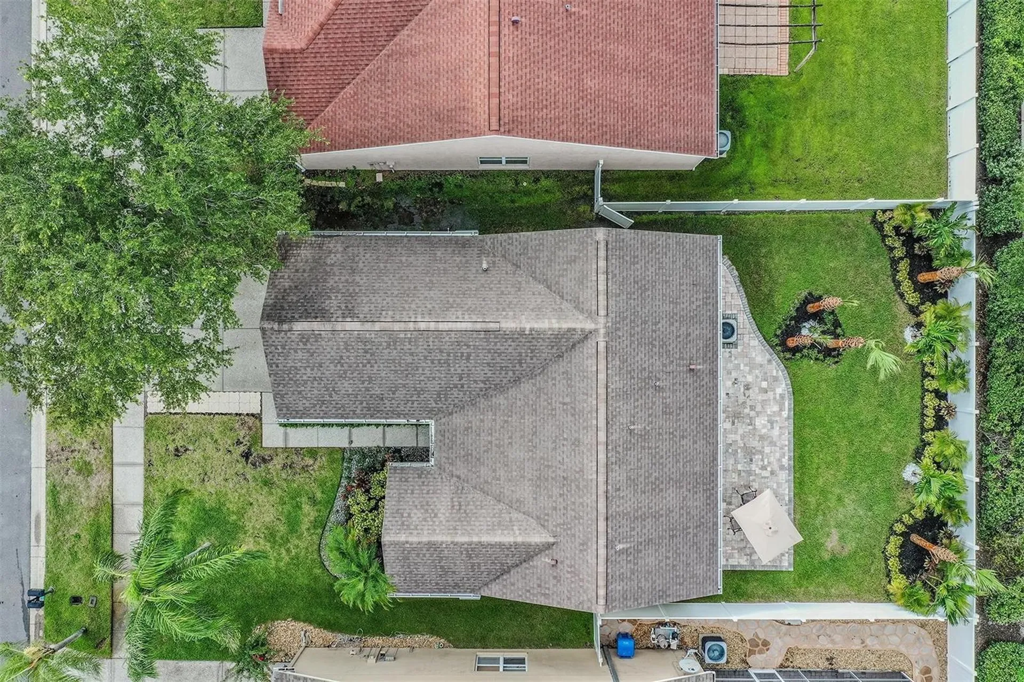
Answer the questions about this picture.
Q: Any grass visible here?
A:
Yes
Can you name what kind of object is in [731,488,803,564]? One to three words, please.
umbrella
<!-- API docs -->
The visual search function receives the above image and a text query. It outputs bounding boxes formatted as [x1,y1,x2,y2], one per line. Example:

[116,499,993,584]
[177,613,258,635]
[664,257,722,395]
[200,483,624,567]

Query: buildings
[259,225,723,614]
[264,0,720,178]
[270,645,718,682]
